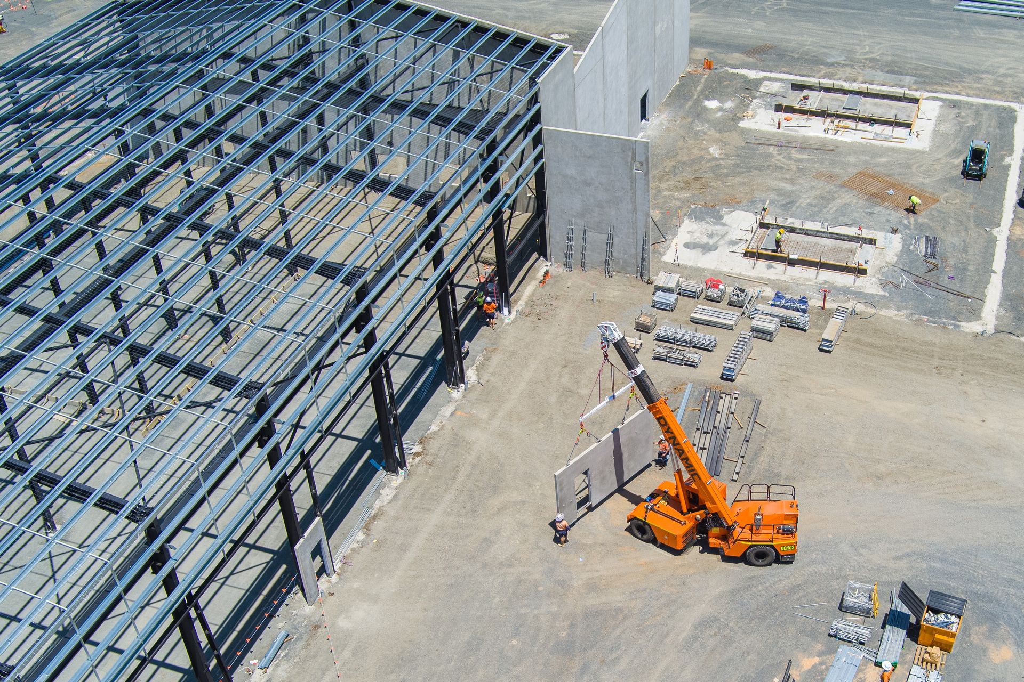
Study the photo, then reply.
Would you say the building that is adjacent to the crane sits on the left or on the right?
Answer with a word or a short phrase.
left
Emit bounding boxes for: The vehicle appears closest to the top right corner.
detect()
[959,137,993,188]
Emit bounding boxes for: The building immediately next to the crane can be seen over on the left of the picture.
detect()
[0,0,562,682]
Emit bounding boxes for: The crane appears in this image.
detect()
[594,311,800,569]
